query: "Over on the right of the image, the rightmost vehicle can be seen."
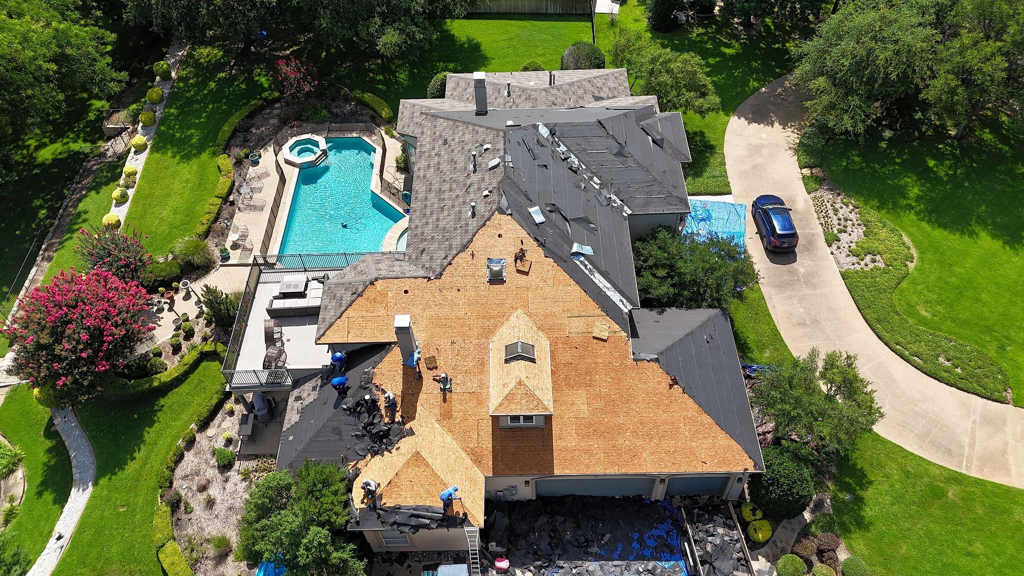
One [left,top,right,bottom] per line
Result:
[755,195,806,258]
